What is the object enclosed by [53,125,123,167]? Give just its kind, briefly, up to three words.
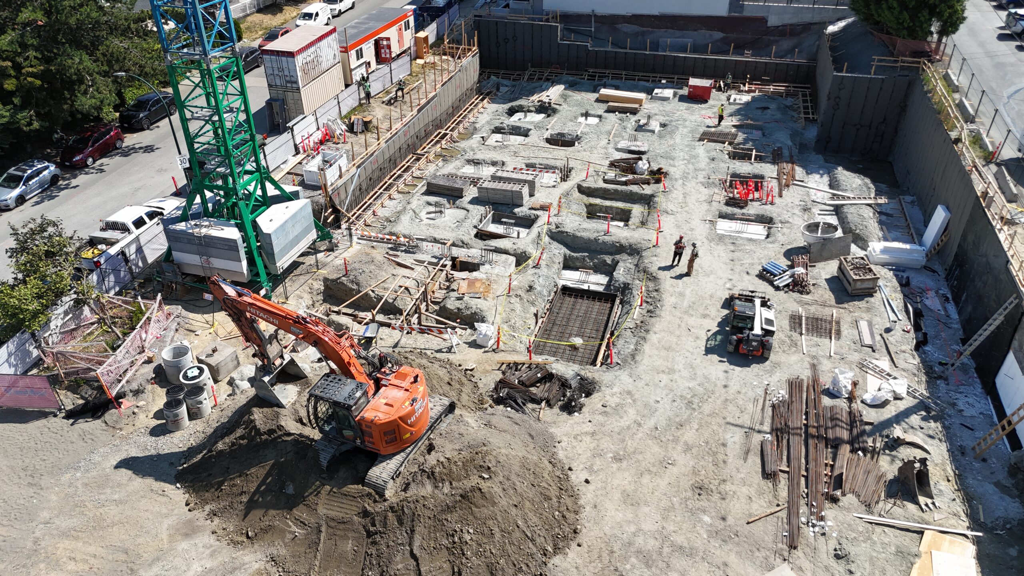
car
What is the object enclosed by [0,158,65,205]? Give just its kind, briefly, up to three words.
car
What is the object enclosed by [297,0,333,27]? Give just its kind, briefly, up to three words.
vehicle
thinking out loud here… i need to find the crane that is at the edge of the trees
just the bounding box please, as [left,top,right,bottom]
[143,0,340,302]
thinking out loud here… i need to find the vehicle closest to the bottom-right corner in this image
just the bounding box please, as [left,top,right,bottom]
[720,283,783,358]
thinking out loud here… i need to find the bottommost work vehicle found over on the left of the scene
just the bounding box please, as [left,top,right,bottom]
[205,275,461,499]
